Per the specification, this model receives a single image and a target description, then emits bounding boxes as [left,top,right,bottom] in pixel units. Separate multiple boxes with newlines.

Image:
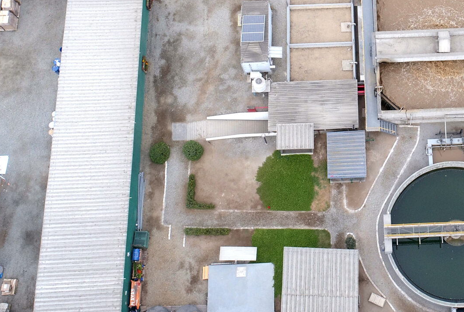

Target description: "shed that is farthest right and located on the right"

[327,130,366,183]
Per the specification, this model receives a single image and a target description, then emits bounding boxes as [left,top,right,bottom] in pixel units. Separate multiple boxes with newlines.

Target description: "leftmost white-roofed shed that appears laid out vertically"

[34,0,148,312]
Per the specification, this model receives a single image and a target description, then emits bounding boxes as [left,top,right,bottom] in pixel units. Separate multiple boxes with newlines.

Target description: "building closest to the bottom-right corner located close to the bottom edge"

[281,247,359,312]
